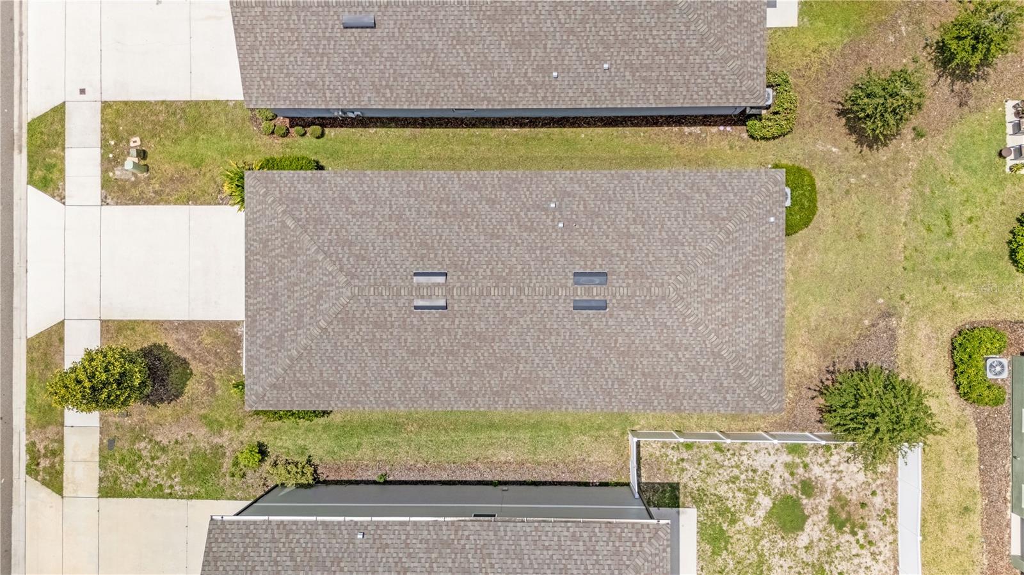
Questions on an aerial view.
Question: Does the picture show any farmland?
No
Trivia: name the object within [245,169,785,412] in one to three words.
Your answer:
house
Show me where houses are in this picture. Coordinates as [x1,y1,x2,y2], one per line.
[245,169,785,412]
[1012,356,1024,575]
[202,485,670,575]
[230,0,767,123]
